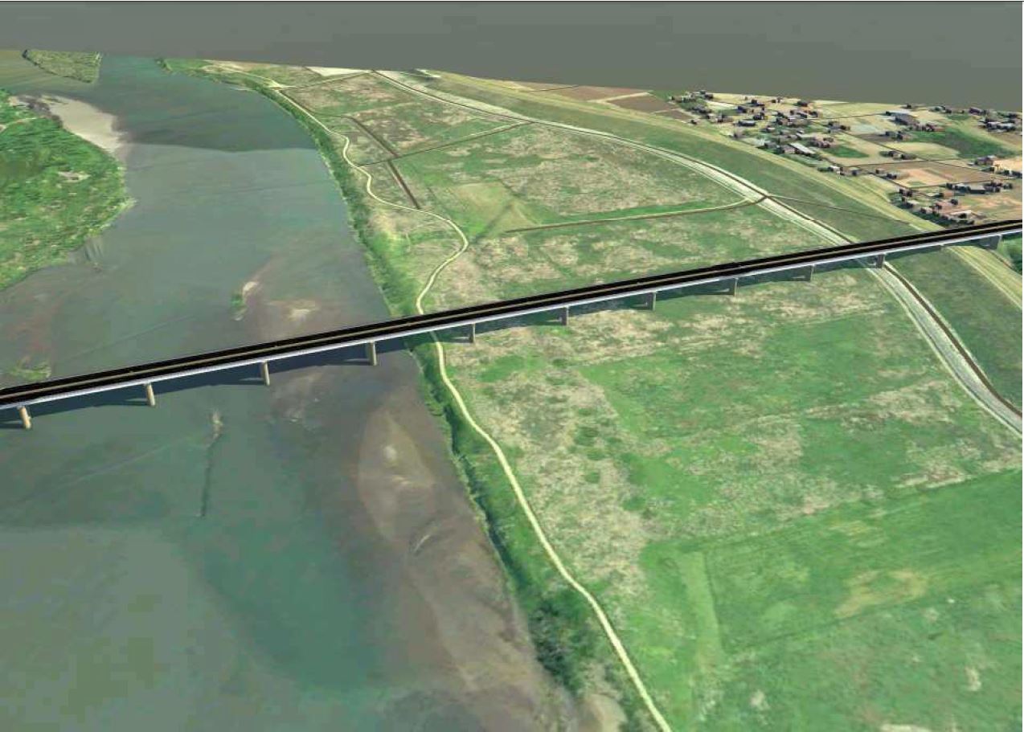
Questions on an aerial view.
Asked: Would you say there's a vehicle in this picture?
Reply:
No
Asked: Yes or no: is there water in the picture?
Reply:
Yes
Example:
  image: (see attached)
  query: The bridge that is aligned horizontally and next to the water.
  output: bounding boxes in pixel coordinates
[0,219,1024,429]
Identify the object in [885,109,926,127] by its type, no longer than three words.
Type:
barn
